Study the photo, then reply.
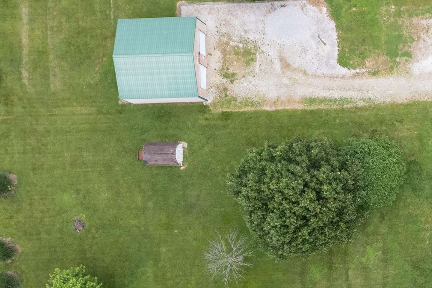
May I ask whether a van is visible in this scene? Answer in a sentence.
No, this view has no van in it.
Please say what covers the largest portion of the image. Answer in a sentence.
The bulk of the photo consists of grass.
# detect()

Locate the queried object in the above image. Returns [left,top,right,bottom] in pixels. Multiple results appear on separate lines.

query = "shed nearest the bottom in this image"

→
[142,141,183,164]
